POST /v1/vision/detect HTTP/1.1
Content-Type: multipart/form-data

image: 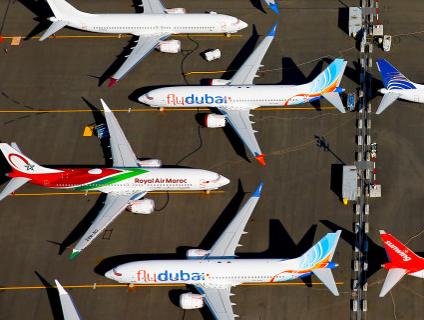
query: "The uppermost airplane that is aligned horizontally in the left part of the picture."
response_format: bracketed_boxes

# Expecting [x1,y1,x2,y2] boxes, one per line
[40,0,247,86]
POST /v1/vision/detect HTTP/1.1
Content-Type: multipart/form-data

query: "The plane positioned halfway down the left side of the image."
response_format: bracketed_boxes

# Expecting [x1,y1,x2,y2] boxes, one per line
[0,99,228,258]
